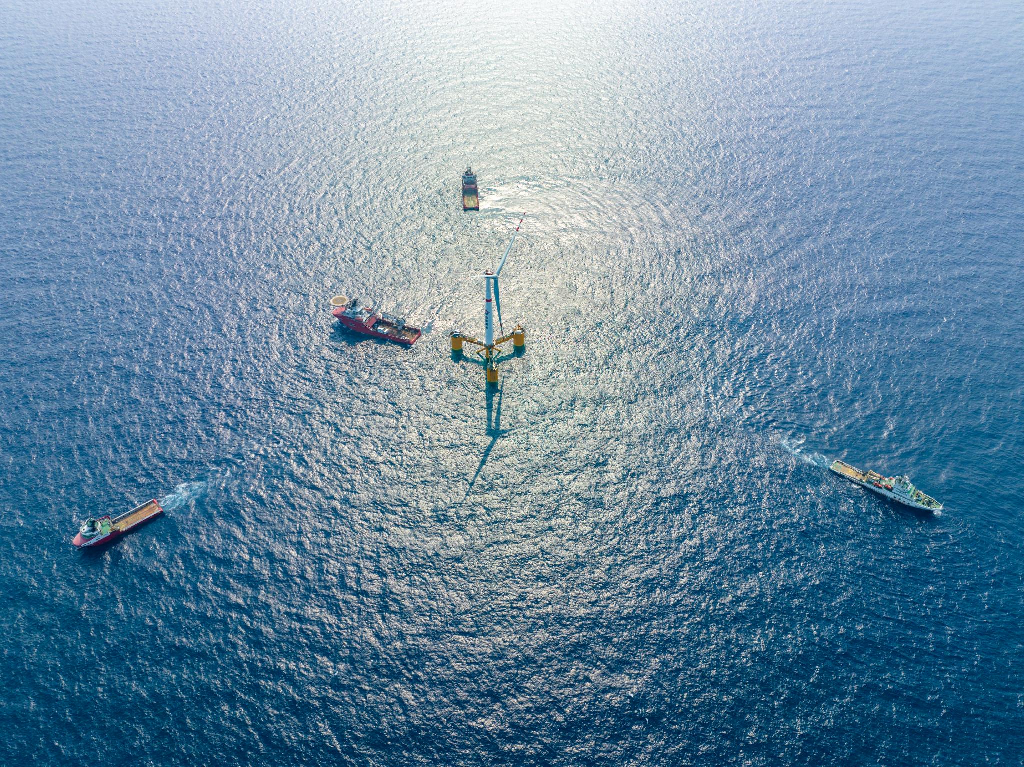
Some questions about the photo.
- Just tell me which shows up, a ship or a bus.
ship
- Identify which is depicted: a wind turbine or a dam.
wind turbine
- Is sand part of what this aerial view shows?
No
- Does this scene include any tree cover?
No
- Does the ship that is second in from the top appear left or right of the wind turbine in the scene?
on the left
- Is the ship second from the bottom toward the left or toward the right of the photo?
right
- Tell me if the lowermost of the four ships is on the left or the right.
left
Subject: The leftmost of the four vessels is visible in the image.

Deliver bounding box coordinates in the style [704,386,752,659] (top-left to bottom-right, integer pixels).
[71,497,163,551]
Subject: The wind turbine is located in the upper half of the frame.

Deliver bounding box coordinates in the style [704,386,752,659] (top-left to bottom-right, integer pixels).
[449,214,526,385]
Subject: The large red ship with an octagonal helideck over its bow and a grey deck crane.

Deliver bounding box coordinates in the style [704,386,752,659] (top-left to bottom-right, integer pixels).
[330,296,422,345]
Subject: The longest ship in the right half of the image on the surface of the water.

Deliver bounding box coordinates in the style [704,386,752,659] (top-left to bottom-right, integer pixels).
[831,460,945,514]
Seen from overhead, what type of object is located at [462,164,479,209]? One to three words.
ship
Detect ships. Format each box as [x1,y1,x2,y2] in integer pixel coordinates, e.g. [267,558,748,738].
[462,164,479,209]
[831,460,945,514]
[330,296,422,345]
[71,497,163,551]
